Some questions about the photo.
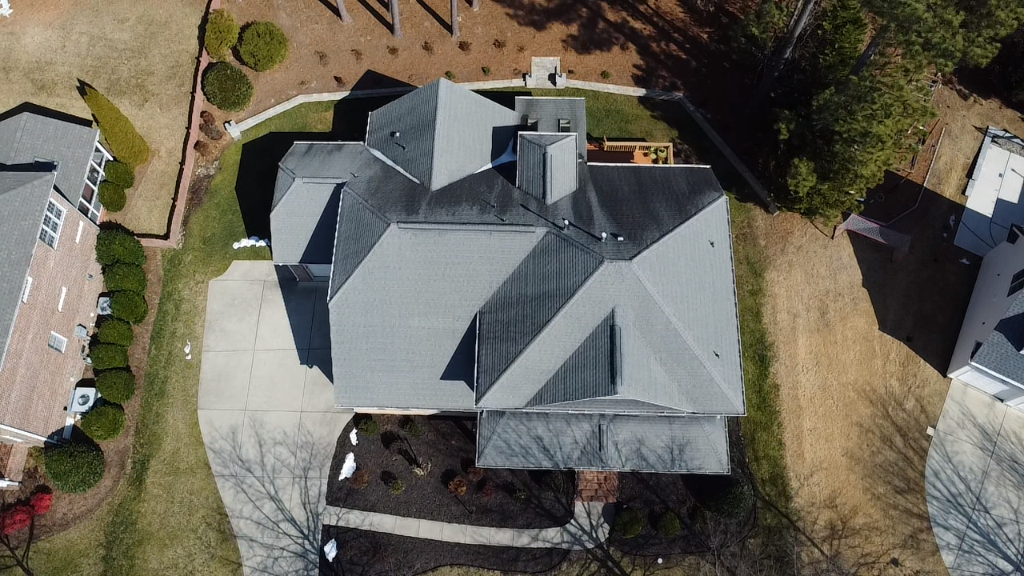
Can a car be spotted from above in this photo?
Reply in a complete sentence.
No, this view has no car in it.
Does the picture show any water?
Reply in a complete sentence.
No, there's no water in this view.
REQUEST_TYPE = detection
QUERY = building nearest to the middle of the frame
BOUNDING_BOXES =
[267,75,748,478]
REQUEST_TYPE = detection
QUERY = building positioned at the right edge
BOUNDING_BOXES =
[946,227,1024,405]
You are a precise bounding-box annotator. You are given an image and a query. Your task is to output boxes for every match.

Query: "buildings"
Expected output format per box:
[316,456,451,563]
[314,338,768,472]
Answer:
[267,75,748,478]
[946,227,1024,405]
[0,110,112,492]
